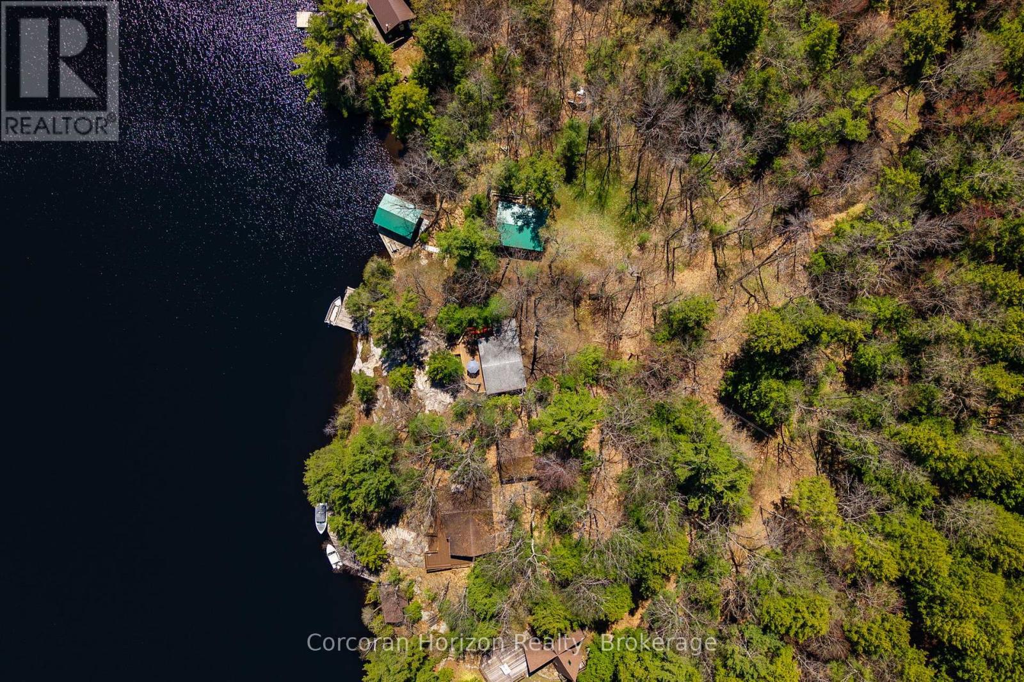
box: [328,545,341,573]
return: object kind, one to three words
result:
boat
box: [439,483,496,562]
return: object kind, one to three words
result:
house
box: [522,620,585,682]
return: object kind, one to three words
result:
house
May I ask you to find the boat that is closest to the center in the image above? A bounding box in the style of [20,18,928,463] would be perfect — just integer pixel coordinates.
[324,298,338,326]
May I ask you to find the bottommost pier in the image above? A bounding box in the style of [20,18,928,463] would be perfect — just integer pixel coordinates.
[337,287,370,334]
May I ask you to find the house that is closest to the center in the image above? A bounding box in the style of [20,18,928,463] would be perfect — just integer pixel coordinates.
[478,319,526,394]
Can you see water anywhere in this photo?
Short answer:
Yes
